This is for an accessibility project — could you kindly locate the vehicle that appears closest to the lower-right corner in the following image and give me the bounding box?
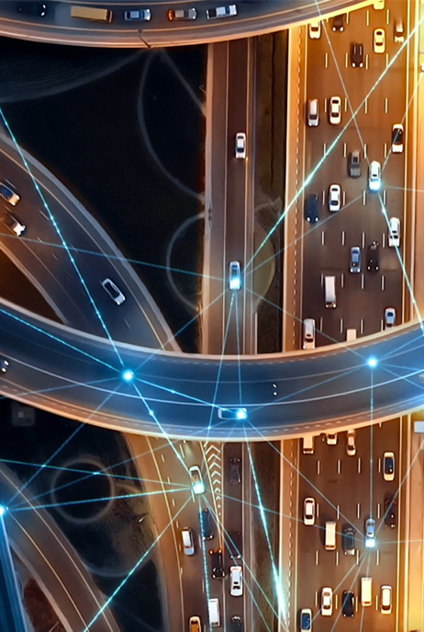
[380,585,394,613]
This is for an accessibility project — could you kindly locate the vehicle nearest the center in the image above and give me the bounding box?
[228,261,241,289]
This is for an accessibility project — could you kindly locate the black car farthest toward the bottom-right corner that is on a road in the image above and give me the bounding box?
[342,588,354,617]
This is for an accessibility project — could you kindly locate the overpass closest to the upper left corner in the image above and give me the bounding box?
[0,0,380,50]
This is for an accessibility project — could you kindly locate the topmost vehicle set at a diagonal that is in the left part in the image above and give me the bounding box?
[0,181,19,204]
